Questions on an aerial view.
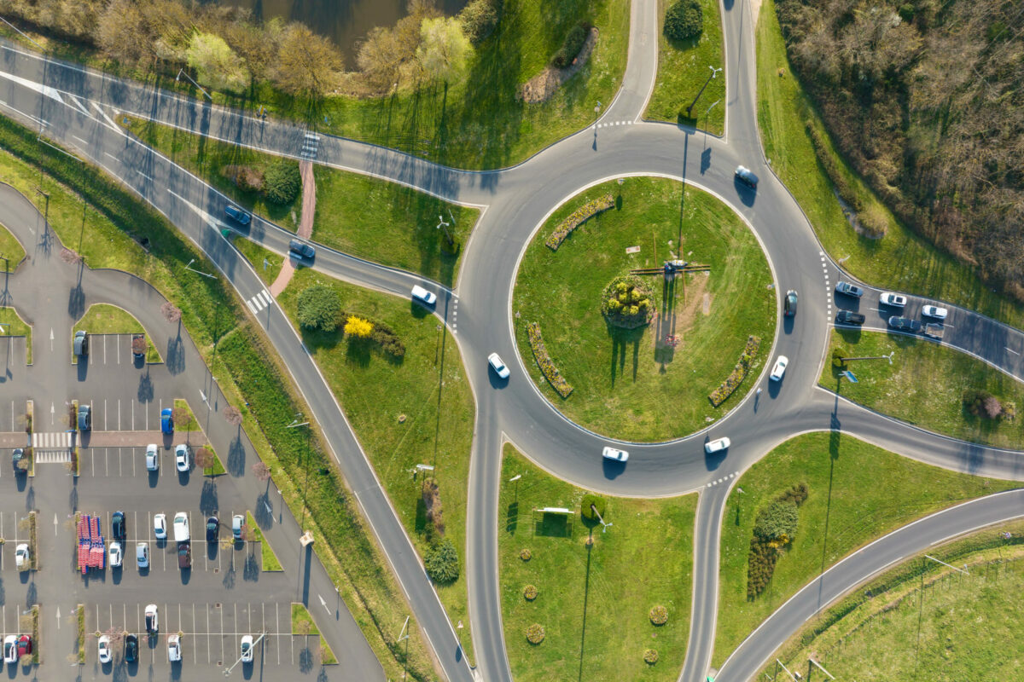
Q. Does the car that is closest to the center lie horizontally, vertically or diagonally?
diagonally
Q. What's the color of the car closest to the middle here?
white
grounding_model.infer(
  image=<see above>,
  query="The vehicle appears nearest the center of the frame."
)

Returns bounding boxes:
[487,354,510,379]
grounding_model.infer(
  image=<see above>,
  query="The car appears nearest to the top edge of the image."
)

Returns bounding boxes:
[735,167,758,186]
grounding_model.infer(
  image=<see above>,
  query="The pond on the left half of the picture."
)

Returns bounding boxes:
[219,0,467,73]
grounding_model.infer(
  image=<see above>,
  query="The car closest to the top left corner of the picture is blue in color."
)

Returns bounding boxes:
[224,205,252,224]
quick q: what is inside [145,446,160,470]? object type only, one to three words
car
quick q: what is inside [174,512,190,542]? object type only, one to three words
vehicle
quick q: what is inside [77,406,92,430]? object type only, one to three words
car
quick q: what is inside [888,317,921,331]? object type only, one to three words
vehicle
